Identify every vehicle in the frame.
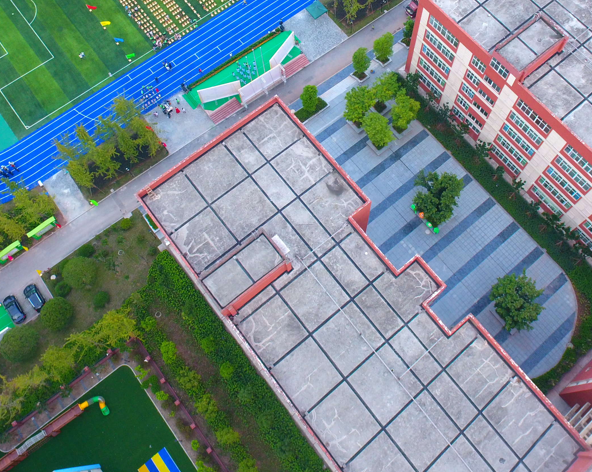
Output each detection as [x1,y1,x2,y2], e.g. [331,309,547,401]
[4,293,28,326]
[400,0,421,15]
[24,281,47,315]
